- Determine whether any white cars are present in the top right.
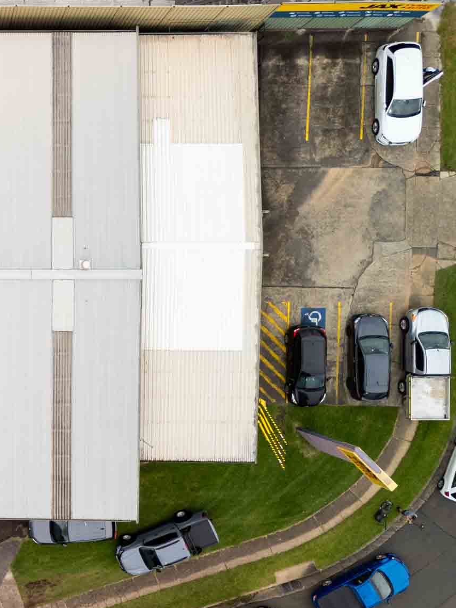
Yes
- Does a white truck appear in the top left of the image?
No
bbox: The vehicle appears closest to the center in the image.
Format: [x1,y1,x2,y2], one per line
[281,325,330,405]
